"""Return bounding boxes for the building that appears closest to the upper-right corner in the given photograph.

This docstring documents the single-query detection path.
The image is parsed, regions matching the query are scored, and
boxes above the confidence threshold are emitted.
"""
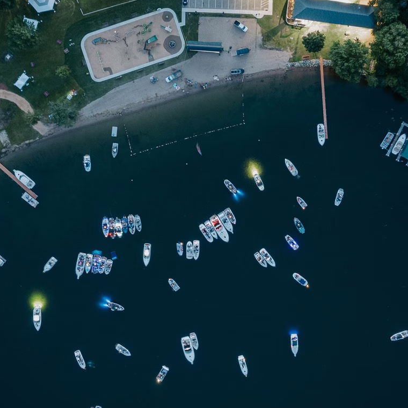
[293,0,375,31]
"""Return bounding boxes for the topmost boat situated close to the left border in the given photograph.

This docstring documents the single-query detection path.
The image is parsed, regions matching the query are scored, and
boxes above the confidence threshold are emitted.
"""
[14,170,37,190]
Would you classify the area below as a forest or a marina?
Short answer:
marina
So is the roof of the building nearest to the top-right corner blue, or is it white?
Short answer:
blue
